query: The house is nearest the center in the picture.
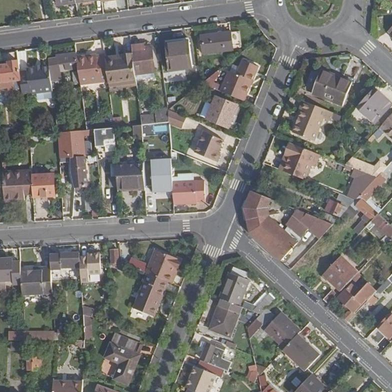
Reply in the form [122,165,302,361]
[173,173,206,208]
